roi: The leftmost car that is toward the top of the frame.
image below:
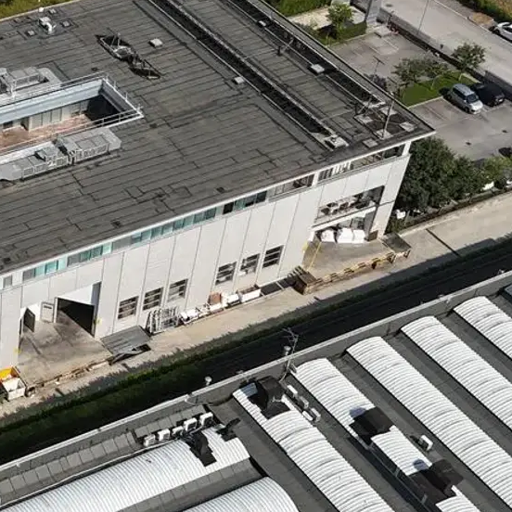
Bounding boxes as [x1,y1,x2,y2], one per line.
[442,81,482,114]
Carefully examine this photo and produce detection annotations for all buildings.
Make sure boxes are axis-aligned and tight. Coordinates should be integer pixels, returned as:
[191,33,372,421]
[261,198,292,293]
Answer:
[0,0,432,395]
[0,270,512,512]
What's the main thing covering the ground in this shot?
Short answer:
buildings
